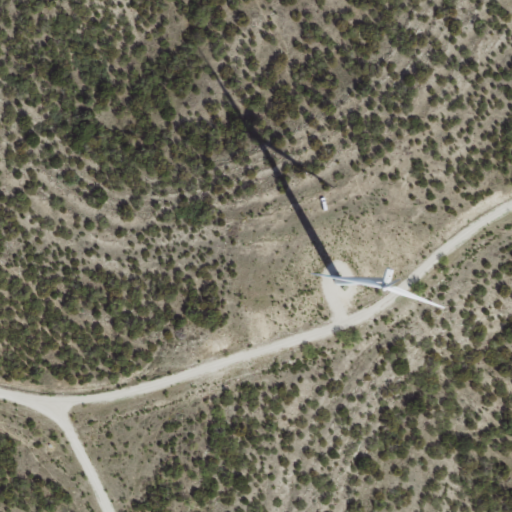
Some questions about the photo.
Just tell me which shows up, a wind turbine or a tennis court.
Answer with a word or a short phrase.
wind turbine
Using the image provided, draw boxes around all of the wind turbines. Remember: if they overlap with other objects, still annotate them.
[314,268,441,309]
